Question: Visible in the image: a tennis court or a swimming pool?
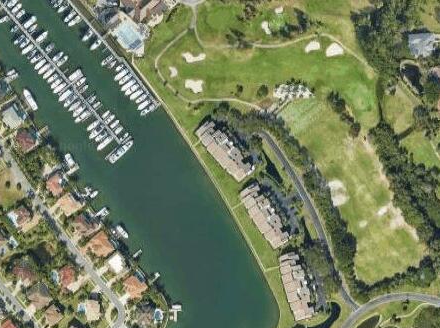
swimming pool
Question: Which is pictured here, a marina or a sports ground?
marina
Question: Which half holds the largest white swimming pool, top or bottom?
top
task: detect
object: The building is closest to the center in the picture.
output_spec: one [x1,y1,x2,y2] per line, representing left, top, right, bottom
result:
[194,120,254,182]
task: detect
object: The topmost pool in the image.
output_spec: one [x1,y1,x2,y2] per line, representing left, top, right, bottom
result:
[110,12,145,56]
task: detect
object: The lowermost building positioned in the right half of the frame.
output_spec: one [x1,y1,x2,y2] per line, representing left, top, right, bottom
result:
[278,253,316,319]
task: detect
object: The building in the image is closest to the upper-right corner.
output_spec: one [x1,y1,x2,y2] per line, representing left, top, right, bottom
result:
[408,32,435,53]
